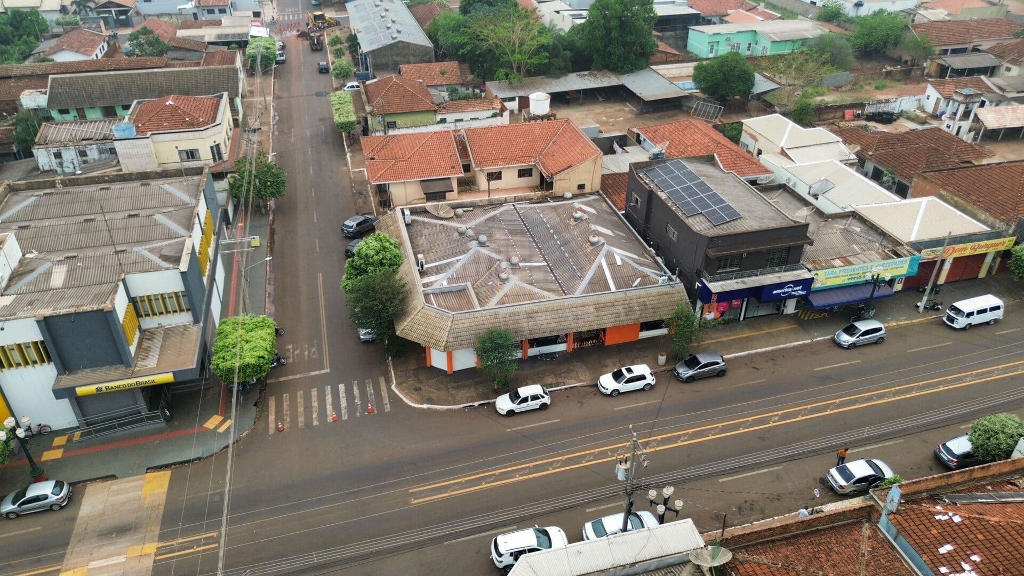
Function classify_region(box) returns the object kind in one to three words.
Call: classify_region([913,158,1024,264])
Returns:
house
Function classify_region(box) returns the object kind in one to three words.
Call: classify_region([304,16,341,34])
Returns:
work vehicle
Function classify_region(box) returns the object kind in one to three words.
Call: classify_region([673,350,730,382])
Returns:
car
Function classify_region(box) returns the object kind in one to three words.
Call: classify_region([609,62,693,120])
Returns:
shed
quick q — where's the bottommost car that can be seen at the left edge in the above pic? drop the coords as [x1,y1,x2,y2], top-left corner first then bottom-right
[0,477,74,518]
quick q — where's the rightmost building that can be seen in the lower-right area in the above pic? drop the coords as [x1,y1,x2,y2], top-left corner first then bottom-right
[867,455,1024,576]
